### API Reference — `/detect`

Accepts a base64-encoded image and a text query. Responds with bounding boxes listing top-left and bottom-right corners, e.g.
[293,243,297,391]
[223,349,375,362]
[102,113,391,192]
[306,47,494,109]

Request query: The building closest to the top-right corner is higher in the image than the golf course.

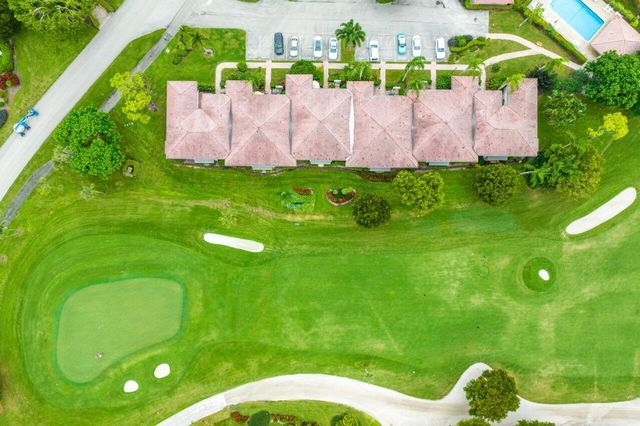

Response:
[586,13,640,55]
